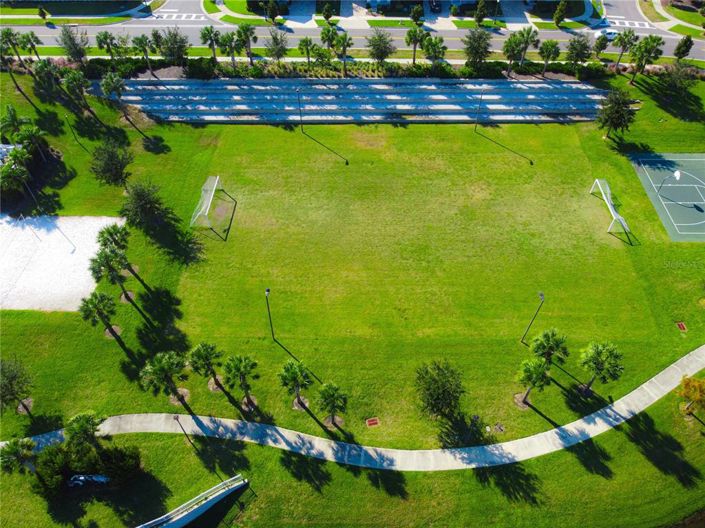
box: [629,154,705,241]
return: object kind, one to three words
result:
basketball court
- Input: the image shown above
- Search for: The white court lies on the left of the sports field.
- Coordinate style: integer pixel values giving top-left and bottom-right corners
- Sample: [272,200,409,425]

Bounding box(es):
[0,215,126,310]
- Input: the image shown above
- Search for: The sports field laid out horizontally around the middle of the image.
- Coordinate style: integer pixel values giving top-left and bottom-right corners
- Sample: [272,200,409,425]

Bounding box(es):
[173,127,663,340]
